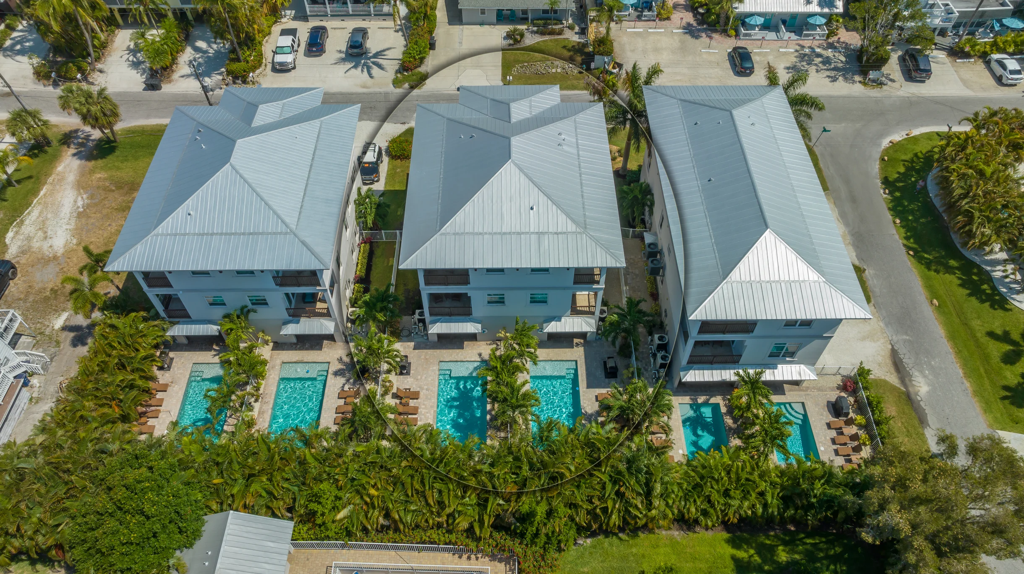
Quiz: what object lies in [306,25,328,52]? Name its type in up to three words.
car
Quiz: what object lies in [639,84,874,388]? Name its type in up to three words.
house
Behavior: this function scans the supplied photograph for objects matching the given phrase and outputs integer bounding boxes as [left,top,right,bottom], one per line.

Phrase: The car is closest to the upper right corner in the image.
[990,51,1024,80]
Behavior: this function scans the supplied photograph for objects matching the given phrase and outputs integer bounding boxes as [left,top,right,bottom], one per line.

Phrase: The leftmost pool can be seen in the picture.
[164,359,235,457]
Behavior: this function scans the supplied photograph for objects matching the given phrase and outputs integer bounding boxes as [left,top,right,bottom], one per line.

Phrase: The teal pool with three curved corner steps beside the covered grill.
[767,398,829,488]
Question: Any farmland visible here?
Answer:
No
